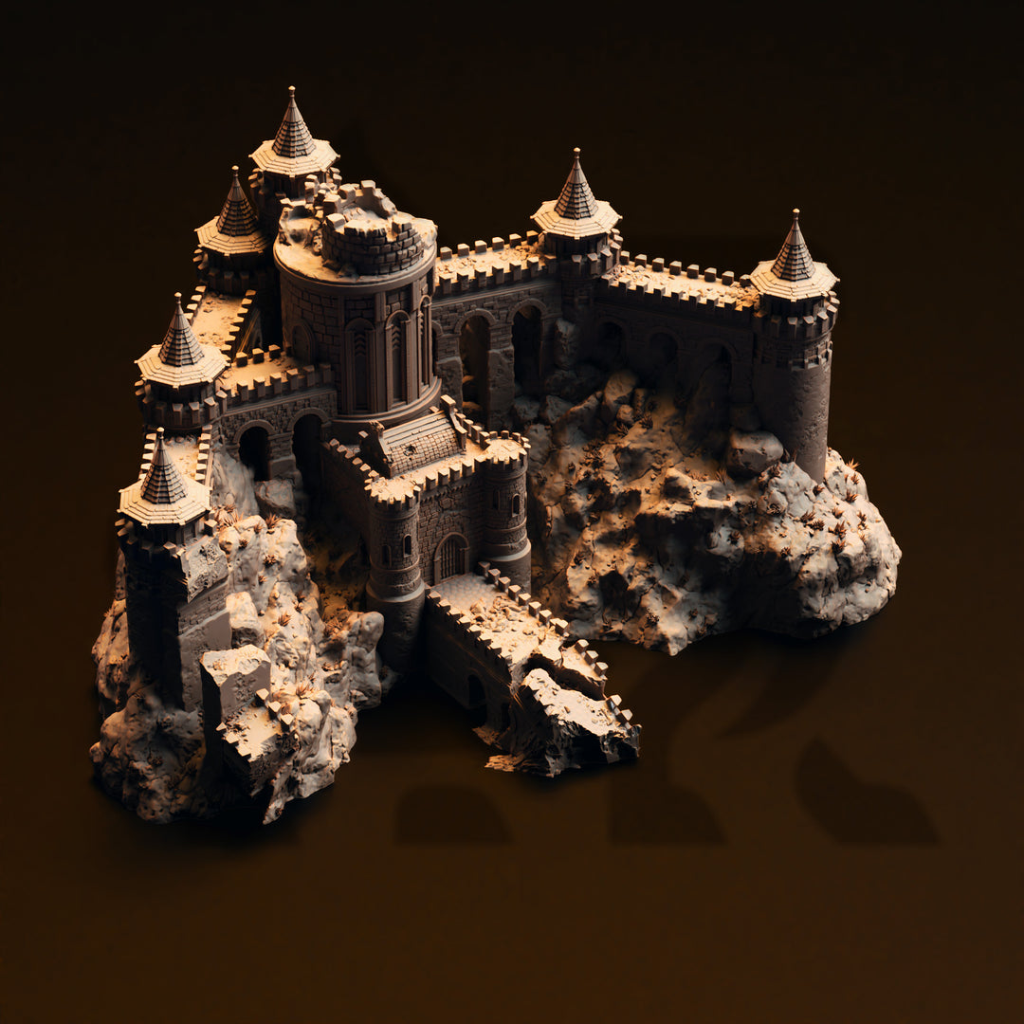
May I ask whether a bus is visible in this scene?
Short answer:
No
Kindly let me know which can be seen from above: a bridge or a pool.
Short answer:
bridge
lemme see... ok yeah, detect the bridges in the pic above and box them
[413,553,574,754]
